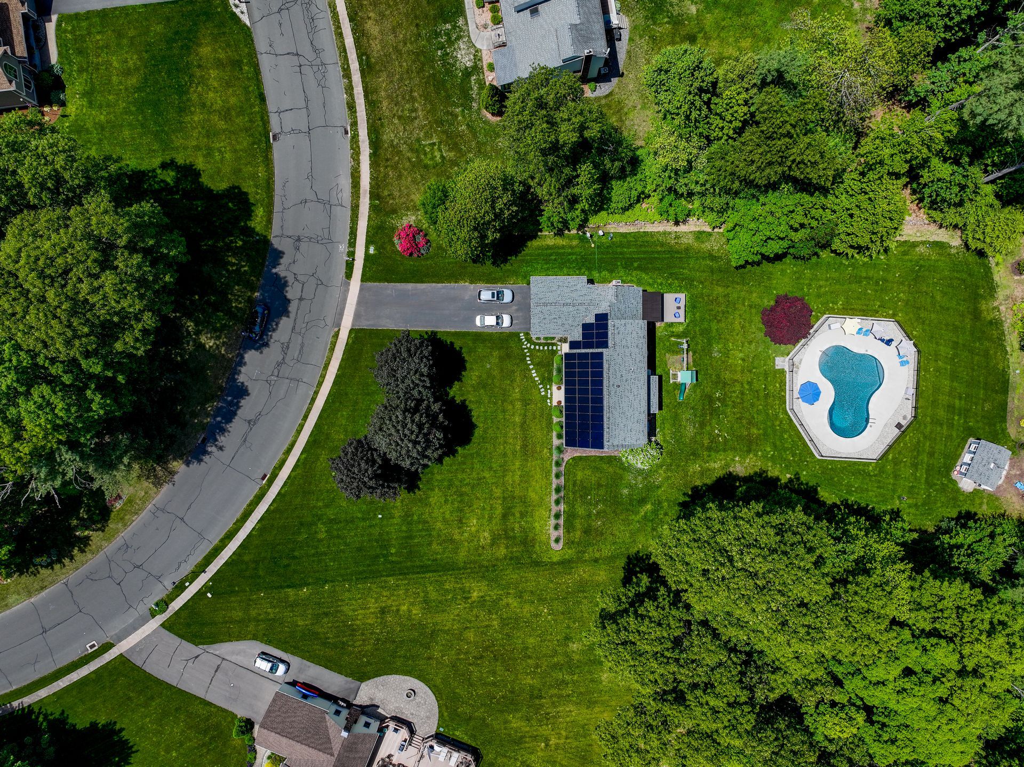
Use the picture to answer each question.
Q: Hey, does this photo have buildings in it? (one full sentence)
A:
Yes, the picture does show a building.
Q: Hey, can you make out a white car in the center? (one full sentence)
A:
Yes, I can see a white car in the center.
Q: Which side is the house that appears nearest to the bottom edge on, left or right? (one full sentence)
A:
The house that appears nearest to the bottom edge is on the left side of the image.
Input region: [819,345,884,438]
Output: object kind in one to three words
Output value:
swimming pool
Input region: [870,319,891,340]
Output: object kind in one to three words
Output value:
umbrella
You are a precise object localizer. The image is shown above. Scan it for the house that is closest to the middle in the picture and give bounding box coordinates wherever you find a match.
[530,276,658,451]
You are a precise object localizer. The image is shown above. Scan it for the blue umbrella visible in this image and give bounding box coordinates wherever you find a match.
[793,381,820,404]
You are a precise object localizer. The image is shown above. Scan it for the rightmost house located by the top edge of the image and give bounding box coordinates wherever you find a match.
[491,0,627,92]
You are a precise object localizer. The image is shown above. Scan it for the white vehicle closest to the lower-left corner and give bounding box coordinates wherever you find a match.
[252,653,290,678]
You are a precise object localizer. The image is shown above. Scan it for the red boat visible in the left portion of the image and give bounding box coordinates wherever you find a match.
[296,682,319,695]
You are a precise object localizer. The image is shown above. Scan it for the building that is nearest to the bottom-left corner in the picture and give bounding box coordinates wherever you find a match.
[254,684,381,767]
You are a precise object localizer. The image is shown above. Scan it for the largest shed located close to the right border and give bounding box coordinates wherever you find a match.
[957,440,1012,492]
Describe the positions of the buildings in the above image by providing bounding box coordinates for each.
[491,0,627,92]
[957,440,1012,492]
[530,276,658,451]
[0,0,52,108]
[254,684,381,767]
